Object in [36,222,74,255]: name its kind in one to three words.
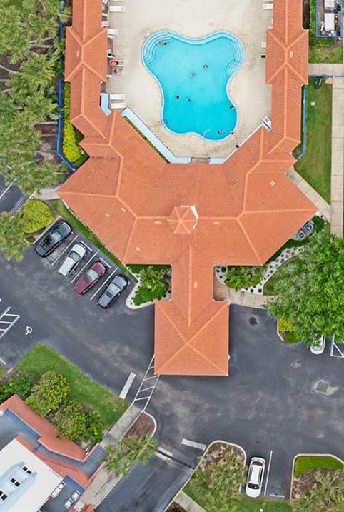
car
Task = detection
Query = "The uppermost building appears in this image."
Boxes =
[56,0,318,376]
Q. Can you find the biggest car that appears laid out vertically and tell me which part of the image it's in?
bottom right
